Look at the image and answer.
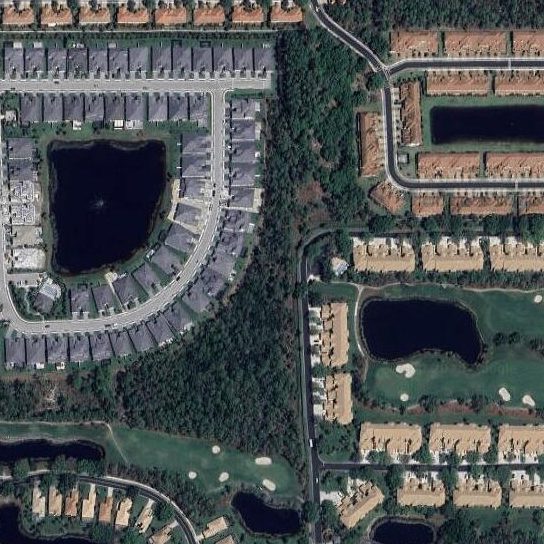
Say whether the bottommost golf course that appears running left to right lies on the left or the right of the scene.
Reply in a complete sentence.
You can find the bottommost golf course that appears running left to right on the left side of the picture.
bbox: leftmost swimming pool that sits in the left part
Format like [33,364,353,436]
[41,280,62,300]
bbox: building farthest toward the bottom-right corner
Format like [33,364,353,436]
[509,482,544,510]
